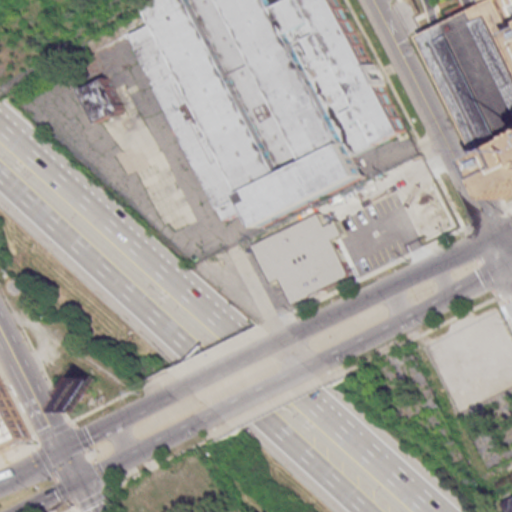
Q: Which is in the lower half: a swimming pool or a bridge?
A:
bridge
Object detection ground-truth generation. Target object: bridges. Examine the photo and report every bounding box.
[146,316,342,438]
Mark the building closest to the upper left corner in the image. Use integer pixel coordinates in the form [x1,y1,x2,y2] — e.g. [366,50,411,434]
[78,76,120,122]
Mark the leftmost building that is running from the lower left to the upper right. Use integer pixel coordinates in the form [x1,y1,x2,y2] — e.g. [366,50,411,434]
[45,375,90,412]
